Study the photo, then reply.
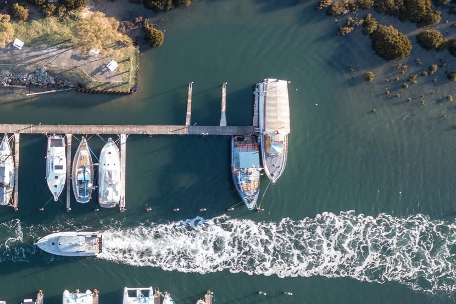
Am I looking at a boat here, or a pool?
boat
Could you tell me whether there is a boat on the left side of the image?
Yes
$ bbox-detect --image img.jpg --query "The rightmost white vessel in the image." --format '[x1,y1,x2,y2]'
[257,78,293,181]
